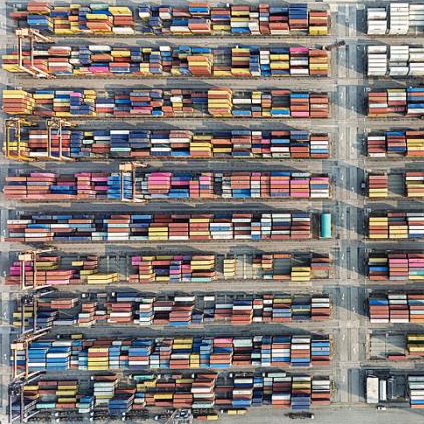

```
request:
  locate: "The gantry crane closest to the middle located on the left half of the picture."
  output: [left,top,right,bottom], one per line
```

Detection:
[116,153,154,204]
